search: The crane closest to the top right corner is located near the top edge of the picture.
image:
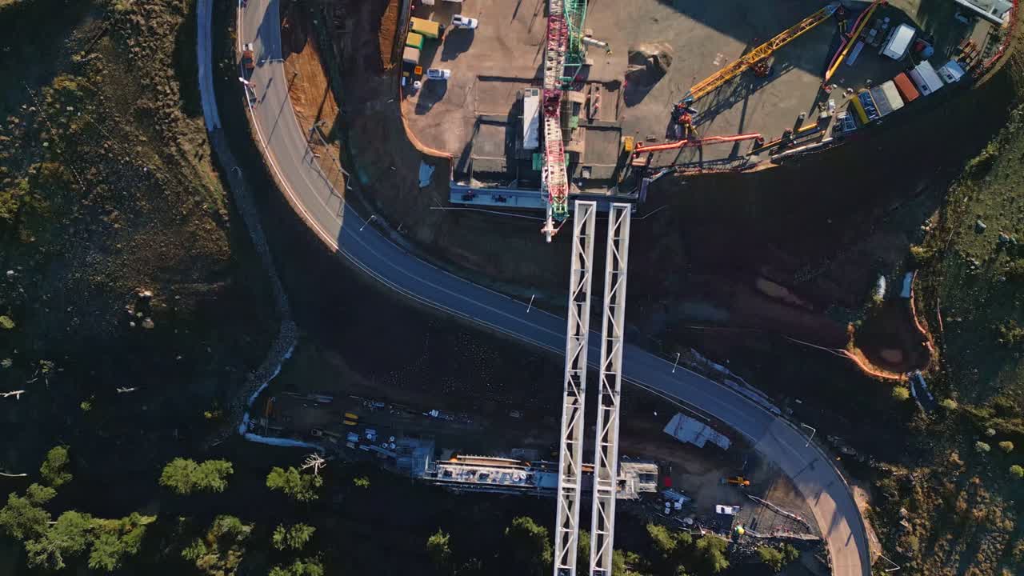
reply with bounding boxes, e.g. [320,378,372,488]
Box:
[671,4,842,138]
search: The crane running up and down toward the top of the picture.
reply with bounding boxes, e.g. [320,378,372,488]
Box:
[541,0,595,242]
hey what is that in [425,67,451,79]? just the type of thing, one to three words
vehicle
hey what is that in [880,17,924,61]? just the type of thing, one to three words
building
